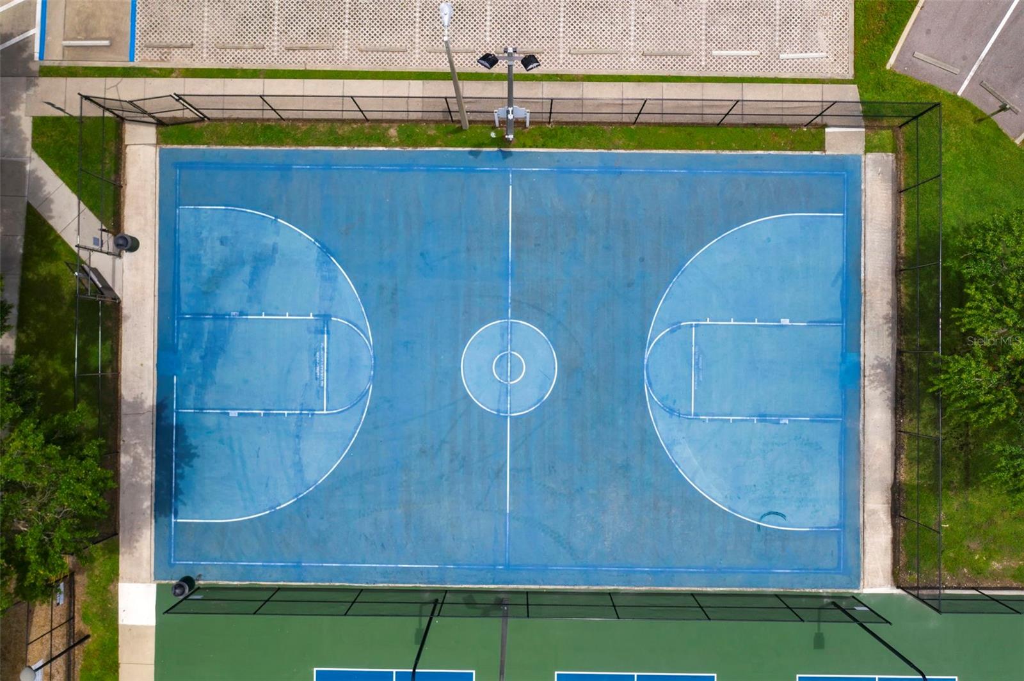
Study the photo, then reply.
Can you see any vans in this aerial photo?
No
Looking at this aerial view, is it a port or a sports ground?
sports ground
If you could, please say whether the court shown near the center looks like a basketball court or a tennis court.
basketball court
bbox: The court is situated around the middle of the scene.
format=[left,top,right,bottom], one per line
[151,144,865,593]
